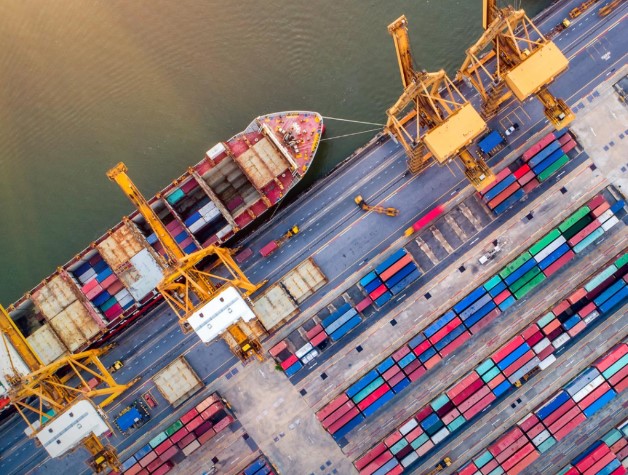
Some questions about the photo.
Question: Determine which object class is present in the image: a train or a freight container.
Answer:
freight container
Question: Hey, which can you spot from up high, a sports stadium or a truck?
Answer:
truck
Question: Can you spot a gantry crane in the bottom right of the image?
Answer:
No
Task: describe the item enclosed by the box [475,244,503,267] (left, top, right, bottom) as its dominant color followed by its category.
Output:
white truck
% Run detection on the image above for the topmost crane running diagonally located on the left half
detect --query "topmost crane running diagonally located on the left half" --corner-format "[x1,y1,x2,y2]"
[113,164,272,367]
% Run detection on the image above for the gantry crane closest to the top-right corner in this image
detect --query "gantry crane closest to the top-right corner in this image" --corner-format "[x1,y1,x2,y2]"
[444,0,581,129]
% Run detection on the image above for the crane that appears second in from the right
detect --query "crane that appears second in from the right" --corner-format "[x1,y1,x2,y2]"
[373,17,499,192]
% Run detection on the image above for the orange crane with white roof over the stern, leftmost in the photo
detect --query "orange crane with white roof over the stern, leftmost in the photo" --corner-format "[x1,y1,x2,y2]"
[0,290,142,475]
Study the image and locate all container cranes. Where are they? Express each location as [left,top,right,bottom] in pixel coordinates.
[373,17,499,192]
[444,0,581,129]
[0,290,142,475]
[113,164,272,367]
